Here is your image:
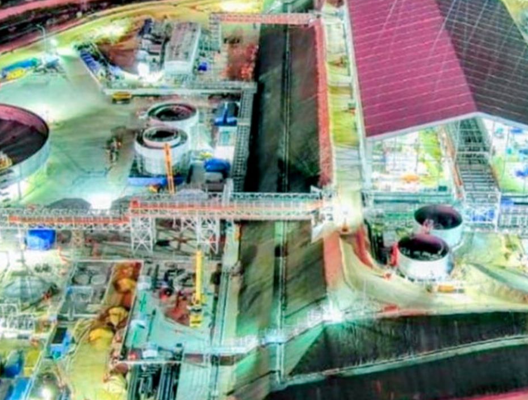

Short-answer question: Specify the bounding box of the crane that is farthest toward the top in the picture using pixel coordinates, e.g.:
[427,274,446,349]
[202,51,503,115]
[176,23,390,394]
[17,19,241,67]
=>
[152,131,181,207]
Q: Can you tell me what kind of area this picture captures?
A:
industrial area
